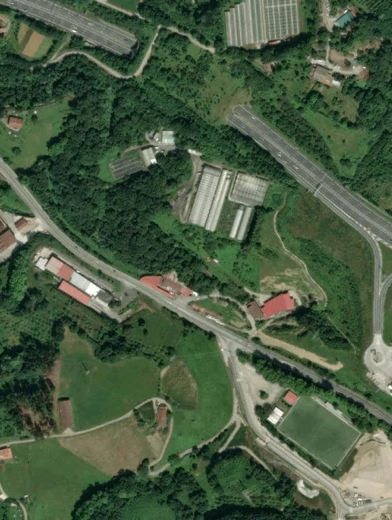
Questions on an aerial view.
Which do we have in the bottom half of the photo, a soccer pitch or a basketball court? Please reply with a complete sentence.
The one visible in the bottom half of the photo is a soccer pitch.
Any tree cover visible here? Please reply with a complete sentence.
Yes, tree cover can be seen from above here.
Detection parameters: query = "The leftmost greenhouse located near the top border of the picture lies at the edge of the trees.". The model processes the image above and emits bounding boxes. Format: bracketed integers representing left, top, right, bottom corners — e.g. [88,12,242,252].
[226,0,267,46]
